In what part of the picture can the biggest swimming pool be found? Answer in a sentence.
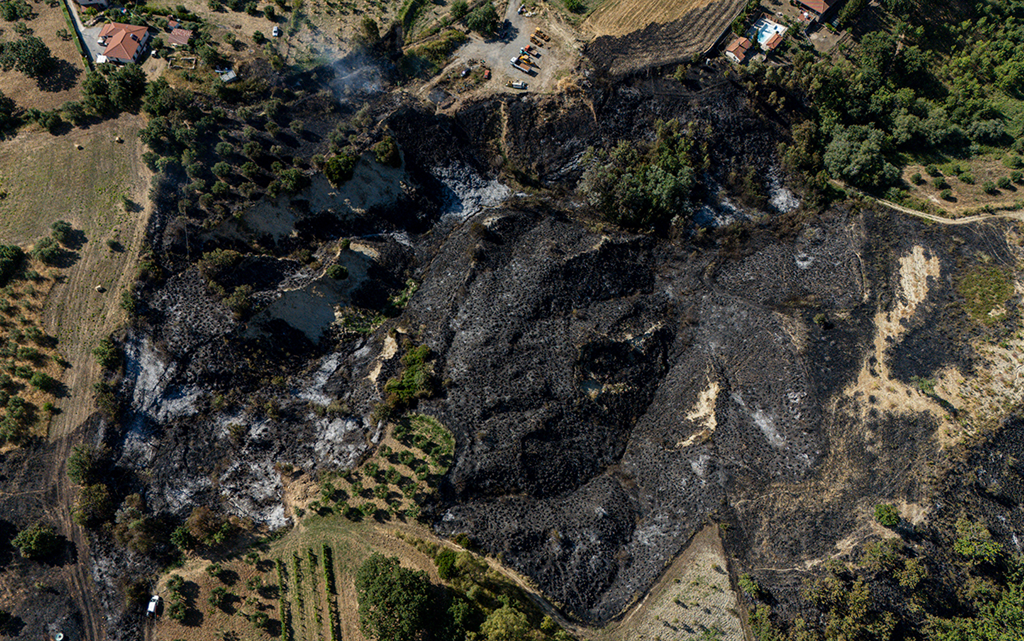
Look in the top right portion of the view to spot the biggest swimming pool.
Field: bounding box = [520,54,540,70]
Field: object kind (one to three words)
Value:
work vehicle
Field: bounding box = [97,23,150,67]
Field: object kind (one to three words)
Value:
house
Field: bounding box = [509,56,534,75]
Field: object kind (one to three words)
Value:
vehicle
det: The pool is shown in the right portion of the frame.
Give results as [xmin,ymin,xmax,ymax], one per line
[748,17,788,51]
